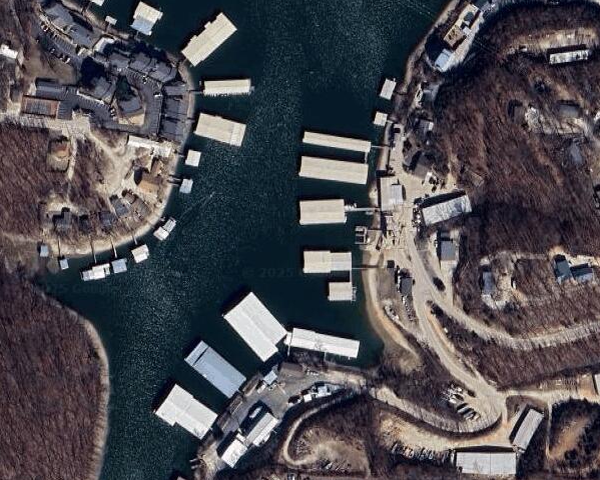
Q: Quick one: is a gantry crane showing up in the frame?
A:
No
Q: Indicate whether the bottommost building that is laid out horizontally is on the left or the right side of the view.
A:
right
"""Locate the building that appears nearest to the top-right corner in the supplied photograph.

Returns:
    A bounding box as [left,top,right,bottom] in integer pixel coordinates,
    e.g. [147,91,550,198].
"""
[550,50,589,63]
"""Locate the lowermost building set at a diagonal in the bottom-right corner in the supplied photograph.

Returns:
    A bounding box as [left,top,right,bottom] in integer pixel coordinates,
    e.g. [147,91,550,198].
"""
[513,411,544,449]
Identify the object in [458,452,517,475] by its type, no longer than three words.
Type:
building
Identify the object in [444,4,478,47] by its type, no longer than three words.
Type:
building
